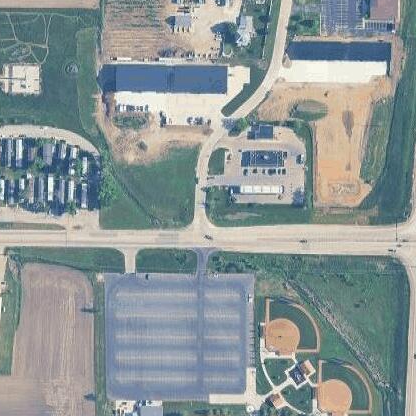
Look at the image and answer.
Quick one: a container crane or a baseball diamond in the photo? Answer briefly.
baseball diamond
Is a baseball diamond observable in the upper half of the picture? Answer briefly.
No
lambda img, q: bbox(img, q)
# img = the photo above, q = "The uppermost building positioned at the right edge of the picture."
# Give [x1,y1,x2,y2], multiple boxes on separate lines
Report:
[371,0,399,19]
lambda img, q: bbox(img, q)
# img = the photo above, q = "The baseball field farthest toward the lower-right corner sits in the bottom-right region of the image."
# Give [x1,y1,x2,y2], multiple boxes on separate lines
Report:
[316,358,373,415]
